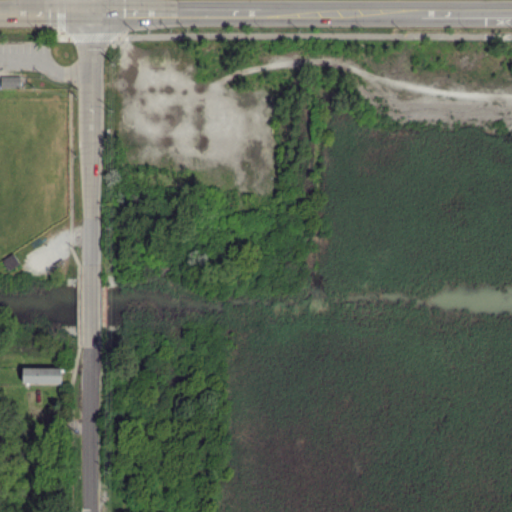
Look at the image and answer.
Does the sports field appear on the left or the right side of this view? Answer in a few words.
left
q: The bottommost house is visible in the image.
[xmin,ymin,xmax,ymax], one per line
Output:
[22,368,62,386]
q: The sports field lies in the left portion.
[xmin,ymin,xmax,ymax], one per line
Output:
[0,90,69,259]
